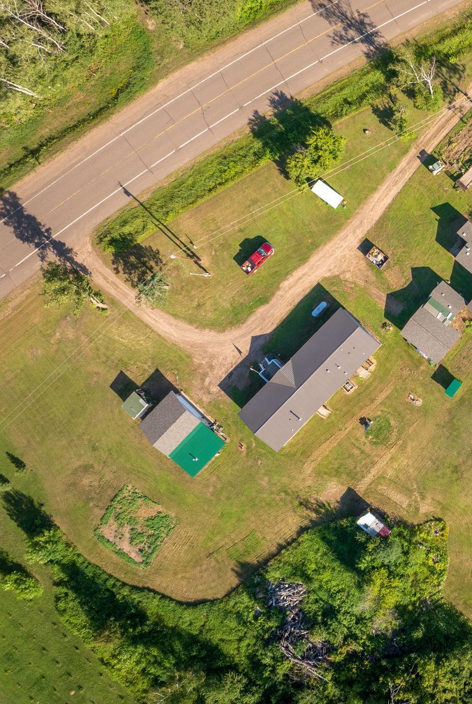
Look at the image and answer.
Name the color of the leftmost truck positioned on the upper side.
red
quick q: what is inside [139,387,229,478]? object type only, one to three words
building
